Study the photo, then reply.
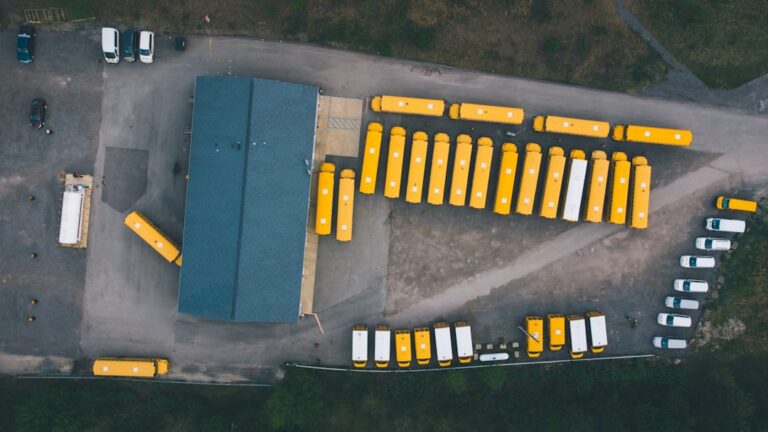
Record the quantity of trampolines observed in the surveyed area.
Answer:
0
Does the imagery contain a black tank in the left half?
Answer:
No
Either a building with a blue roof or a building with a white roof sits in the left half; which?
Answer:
building with a blue roof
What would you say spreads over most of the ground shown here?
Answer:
paved ground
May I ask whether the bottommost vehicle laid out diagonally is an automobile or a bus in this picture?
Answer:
bus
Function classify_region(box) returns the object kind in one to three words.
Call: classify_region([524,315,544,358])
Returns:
vehicle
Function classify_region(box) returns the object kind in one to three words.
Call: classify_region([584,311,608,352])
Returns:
bus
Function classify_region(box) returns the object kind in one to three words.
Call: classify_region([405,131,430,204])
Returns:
bus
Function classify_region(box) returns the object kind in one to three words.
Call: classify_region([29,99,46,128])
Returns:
car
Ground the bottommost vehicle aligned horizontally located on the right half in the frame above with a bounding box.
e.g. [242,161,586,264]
[652,335,686,350]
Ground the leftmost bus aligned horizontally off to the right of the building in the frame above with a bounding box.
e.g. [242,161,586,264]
[370,96,445,118]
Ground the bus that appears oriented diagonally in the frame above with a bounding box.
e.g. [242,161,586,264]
[125,210,182,268]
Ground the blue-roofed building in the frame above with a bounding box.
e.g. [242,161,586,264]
[178,76,320,322]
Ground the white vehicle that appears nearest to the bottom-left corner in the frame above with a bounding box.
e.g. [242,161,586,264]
[352,326,368,368]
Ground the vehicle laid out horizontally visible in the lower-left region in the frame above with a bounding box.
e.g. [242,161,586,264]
[92,356,171,377]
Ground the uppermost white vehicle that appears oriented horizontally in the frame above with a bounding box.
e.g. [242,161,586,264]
[704,218,746,232]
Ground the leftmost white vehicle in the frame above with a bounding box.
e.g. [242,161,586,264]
[104,28,122,64]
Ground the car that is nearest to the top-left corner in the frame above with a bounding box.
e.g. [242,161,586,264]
[17,28,35,63]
